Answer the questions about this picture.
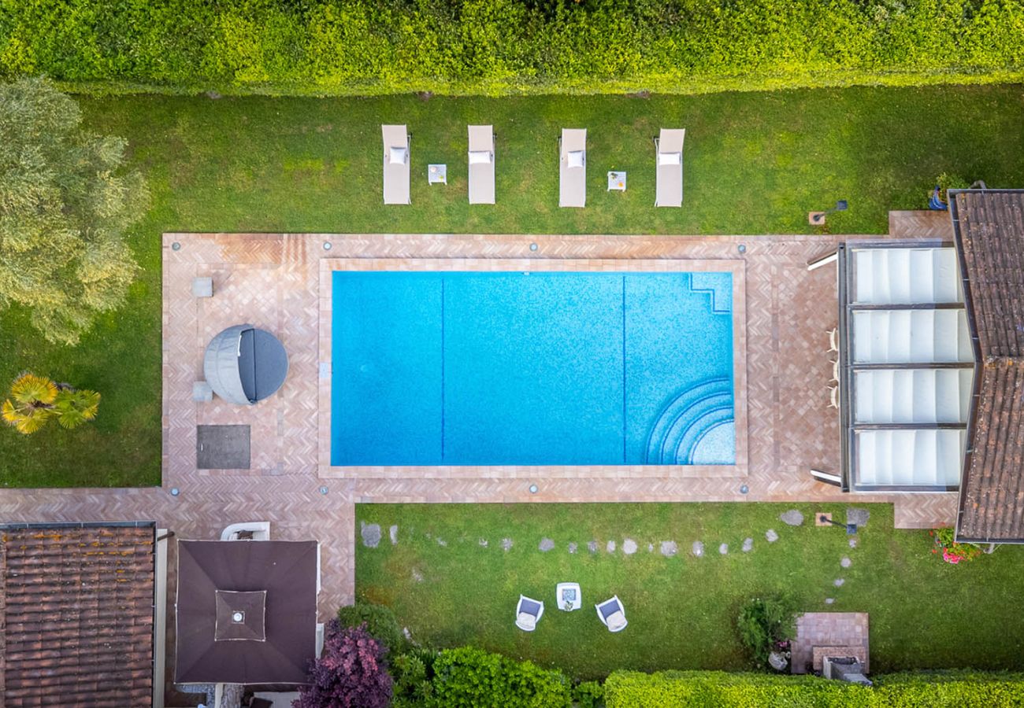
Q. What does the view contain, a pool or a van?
pool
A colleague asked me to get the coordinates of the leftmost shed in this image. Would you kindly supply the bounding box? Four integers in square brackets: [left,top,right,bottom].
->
[0,523,173,708]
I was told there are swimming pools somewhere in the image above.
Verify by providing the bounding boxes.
[318,259,748,477]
